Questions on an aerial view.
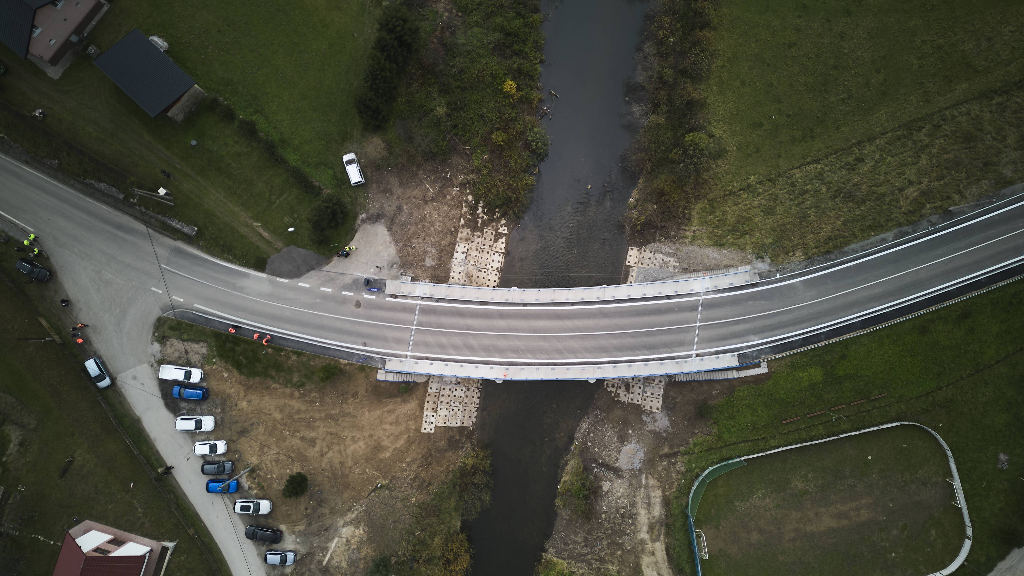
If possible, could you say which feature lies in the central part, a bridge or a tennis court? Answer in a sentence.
The feature located in the central part is a bridge.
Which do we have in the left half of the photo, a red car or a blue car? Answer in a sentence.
The one visible in the left half of the photo is a blue car.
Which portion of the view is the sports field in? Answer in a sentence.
The sports field appears toward the bottom right of the photo.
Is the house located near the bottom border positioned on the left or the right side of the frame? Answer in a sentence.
The house located near the bottom border appears in the left half of the scene.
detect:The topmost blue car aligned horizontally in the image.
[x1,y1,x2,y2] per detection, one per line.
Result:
[169,384,209,403]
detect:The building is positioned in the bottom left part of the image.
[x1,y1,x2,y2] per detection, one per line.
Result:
[53,530,151,576]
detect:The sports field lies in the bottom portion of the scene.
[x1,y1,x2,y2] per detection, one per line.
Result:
[686,421,979,576]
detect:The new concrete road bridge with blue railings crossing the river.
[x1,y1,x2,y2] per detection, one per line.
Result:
[383,269,766,384]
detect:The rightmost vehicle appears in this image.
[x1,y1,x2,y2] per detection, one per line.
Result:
[341,149,364,189]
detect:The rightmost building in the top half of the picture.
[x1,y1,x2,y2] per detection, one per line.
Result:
[93,28,203,119]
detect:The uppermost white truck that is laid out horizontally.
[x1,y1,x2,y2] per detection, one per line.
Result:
[153,364,203,386]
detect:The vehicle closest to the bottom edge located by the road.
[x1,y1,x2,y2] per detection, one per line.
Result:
[261,550,296,570]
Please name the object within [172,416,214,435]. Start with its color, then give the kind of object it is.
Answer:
white car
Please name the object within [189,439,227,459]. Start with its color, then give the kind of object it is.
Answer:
white car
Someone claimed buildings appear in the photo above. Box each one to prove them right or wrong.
[93,28,203,119]
[0,0,107,67]
[53,530,151,576]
